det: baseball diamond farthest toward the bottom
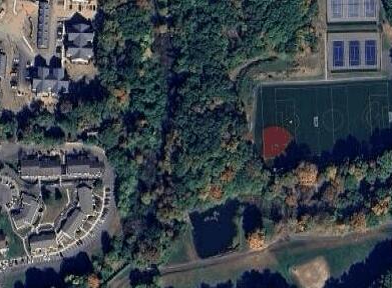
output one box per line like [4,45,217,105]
[289,255,333,288]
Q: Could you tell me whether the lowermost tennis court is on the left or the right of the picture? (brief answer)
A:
right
